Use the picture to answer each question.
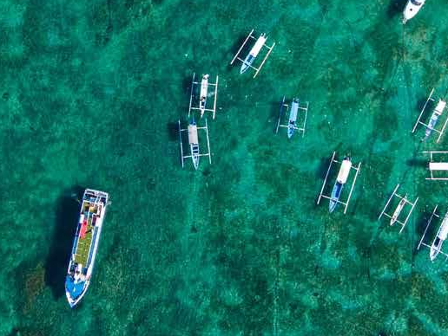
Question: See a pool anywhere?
No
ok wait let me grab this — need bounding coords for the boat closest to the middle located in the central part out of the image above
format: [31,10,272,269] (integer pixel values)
[178,117,212,169]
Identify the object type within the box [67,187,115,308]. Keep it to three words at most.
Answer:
ship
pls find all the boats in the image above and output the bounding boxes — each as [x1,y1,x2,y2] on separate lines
[412,90,448,143]
[418,206,448,261]
[423,152,448,180]
[402,0,425,24]
[190,72,219,118]
[232,29,274,78]
[178,117,212,169]
[380,185,418,233]
[317,153,361,213]
[277,95,309,139]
